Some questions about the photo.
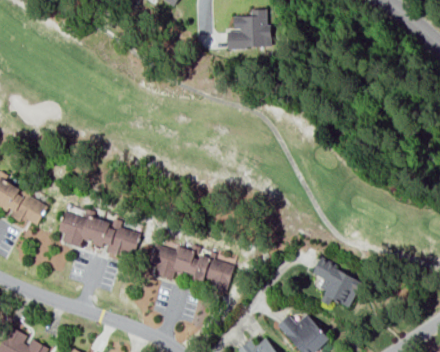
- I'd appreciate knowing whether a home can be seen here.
Yes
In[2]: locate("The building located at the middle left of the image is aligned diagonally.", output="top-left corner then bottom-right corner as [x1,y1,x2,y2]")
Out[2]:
[0,180,48,226]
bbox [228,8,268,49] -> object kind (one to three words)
house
